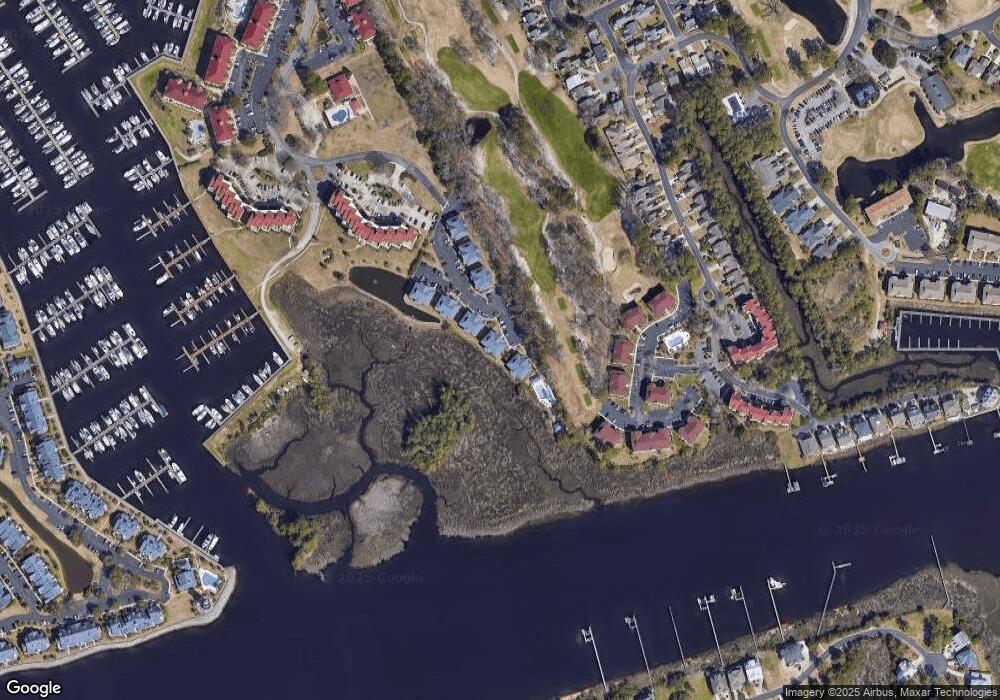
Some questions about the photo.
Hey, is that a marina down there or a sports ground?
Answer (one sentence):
This looks like a marina.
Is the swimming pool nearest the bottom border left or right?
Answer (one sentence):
The swimming pool nearest the bottom border sits on the left side.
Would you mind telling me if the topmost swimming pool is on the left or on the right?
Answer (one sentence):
The topmost swimming pool is on the left side of the image.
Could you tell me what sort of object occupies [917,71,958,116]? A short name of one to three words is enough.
building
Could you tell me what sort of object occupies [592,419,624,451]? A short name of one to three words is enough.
house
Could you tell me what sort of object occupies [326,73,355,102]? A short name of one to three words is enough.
building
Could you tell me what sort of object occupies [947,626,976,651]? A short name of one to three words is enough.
house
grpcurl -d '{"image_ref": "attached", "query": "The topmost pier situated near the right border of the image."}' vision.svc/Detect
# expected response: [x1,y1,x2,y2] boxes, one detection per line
[895,310,1000,357]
